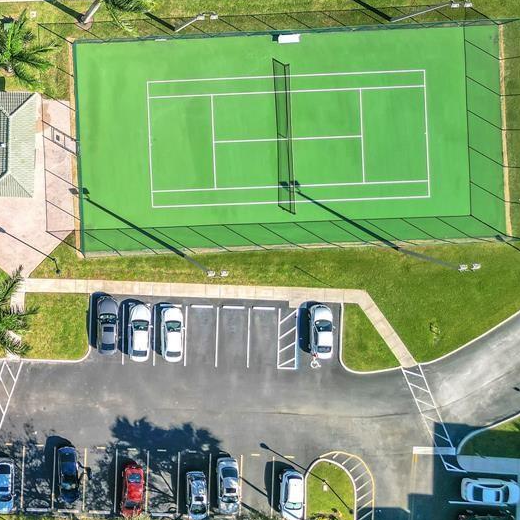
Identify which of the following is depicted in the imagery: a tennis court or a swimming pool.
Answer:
tennis court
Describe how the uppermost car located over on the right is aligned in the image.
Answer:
from top to bottom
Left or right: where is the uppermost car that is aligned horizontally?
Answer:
right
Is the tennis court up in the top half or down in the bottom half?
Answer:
top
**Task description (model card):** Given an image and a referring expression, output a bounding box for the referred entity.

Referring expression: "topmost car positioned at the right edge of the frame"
[461,476,520,506]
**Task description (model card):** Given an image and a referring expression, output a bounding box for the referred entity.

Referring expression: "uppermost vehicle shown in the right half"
[306,303,335,358]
